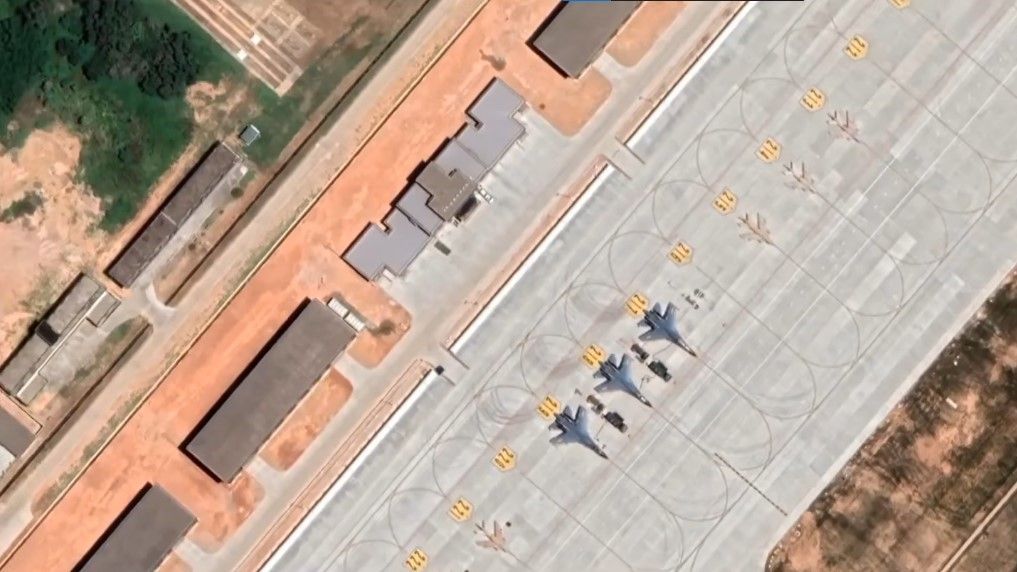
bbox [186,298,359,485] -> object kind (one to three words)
hangar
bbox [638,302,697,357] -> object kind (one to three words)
airplane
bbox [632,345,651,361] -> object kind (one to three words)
vehicle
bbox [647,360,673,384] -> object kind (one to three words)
truck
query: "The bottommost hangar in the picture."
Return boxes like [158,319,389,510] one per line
[79,483,200,572]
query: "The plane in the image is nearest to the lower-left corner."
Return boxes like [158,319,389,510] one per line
[471,517,508,551]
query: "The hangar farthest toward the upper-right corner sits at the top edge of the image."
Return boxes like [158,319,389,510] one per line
[533,0,645,80]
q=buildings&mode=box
[533,0,645,80]
[328,298,348,317]
[79,483,200,572]
[0,407,36,456]
[0,274,120,405]
[345,312,365,332]
[0,447,16,480]
[186,298,359,485]
[343,78,525,281]
[108,143,247,287]
[240,124,260,145]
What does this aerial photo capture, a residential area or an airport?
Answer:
airport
